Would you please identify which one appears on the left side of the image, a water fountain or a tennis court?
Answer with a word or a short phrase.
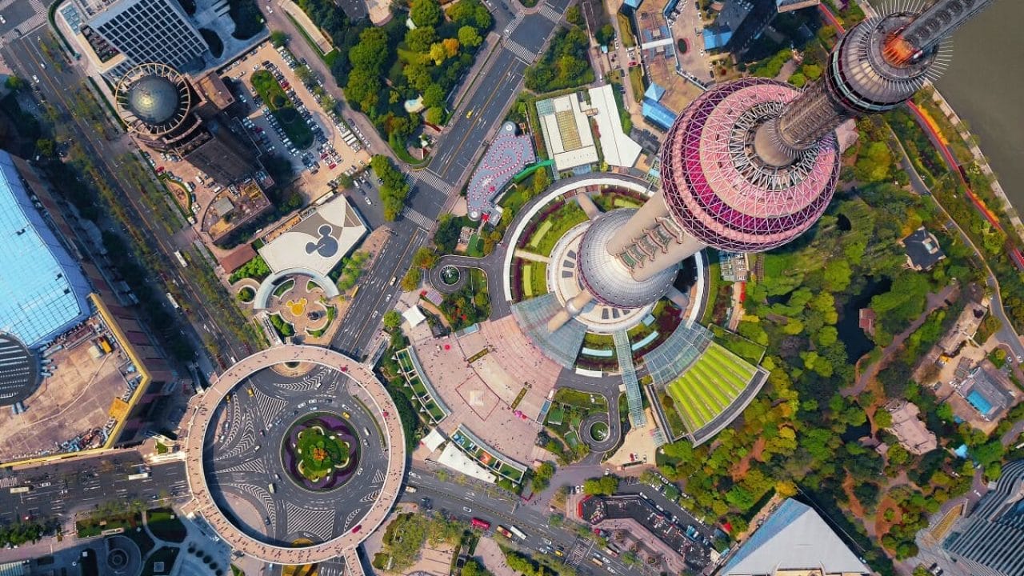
water fountain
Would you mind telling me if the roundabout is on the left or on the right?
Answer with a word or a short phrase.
left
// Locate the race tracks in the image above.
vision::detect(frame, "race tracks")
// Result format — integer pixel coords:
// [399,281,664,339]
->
[466,122,533,227]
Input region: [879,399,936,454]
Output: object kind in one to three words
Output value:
house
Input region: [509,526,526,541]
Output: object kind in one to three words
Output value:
vehicle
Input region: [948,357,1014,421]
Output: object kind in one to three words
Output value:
building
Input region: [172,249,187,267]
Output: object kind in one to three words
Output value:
vehicle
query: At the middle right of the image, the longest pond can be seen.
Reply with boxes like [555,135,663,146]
[837,272,891,365]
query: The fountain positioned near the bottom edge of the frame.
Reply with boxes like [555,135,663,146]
[93,535,141,576]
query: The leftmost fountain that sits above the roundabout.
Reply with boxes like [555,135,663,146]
[303,306,322,324]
